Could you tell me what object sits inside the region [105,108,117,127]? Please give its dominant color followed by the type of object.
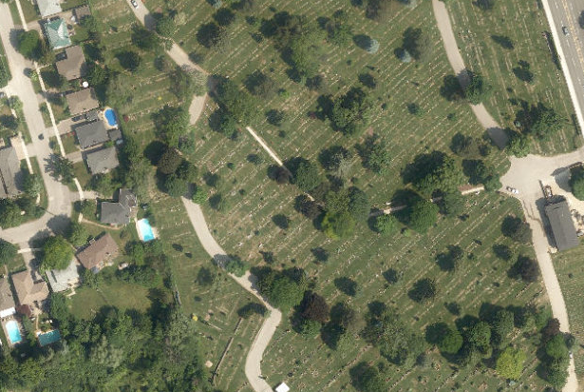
blue swimming pool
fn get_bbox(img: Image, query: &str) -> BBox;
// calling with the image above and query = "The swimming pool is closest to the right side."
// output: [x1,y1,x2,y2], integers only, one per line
[137,217,156,242]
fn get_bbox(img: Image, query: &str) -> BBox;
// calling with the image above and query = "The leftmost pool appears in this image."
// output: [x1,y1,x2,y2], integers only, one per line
[7,320,22,344]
